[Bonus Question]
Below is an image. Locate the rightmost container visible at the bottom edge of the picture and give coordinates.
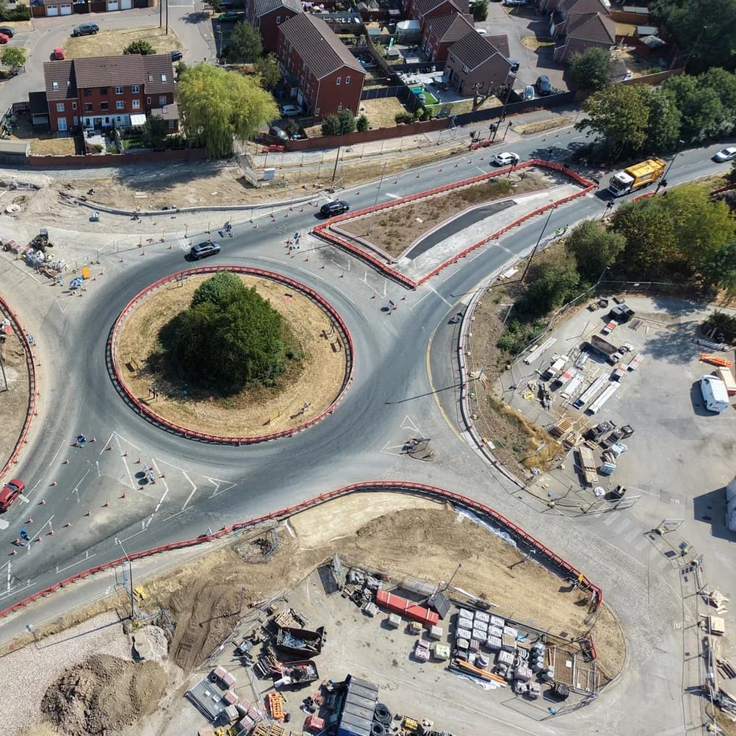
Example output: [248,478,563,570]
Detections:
[335,675,380,736]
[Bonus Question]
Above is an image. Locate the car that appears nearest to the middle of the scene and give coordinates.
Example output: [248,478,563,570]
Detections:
[319,199,352,218]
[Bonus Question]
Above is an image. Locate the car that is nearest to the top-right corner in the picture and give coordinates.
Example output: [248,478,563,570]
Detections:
[712,146,736,164]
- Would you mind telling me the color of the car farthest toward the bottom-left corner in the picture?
red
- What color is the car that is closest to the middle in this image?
black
